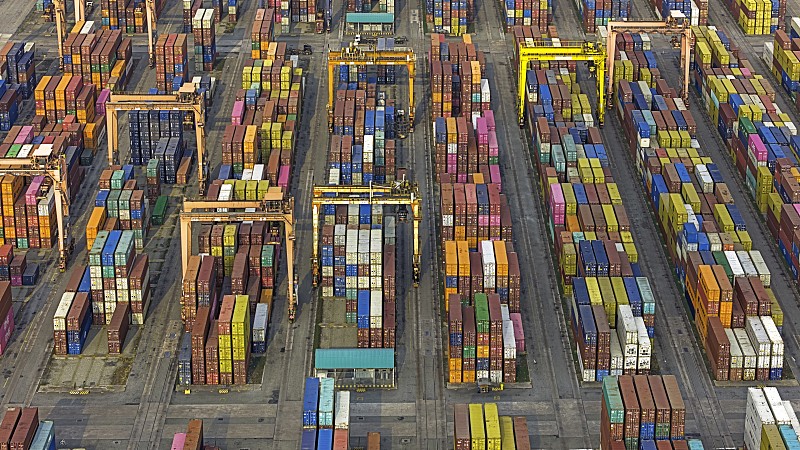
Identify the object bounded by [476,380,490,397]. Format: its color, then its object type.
gray work vehicle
